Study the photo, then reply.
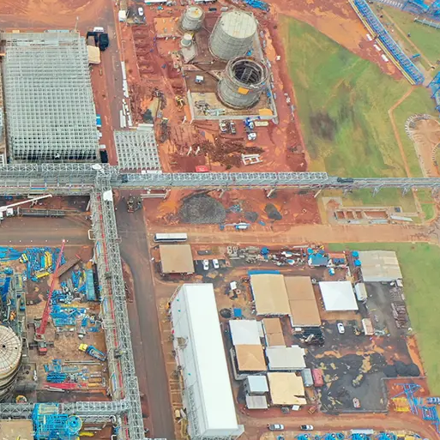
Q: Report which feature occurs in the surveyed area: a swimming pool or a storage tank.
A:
storage tank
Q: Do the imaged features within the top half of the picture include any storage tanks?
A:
Yes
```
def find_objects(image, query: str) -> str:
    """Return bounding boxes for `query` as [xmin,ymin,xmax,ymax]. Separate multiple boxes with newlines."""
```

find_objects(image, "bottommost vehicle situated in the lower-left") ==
[81,342,108,361]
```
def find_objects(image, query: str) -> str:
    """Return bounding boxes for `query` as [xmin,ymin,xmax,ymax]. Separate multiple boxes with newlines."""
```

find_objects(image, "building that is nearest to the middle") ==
[157,245,192,279]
